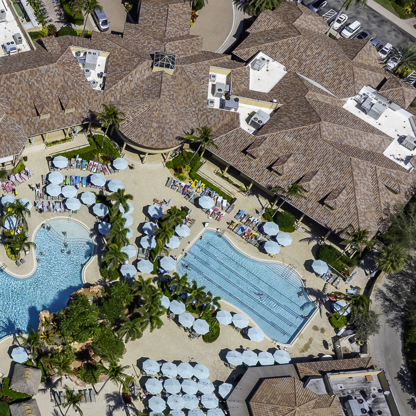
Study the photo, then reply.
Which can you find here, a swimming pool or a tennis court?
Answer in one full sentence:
There is a swimming pool in the scene.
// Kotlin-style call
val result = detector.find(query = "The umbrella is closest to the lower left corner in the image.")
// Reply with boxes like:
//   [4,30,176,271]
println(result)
[11,348,28,364]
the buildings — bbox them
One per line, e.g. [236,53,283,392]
[223,357,402,416]
[9,399,41,416]
[10,363,40,397]
[0,0,416,256]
